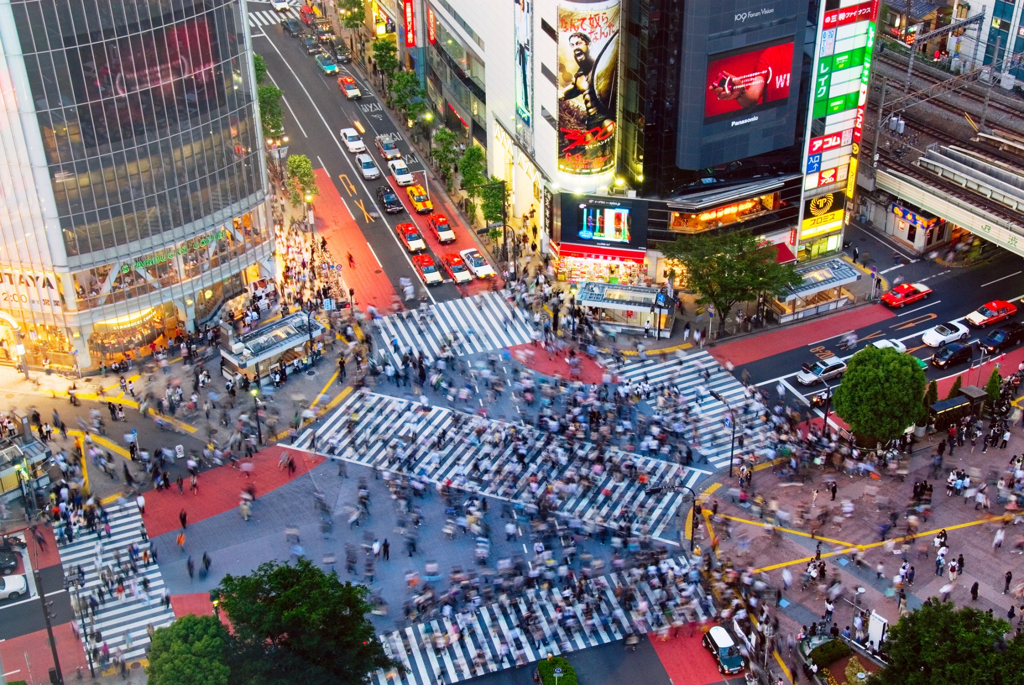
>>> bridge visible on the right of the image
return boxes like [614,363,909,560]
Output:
[871,40,1024,229]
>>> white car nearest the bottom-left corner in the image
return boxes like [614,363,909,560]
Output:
[0,568,37,595]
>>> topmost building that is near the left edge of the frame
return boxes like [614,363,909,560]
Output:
[0,0,276,373]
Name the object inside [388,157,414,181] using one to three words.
car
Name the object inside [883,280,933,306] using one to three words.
car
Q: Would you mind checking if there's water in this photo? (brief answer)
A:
No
